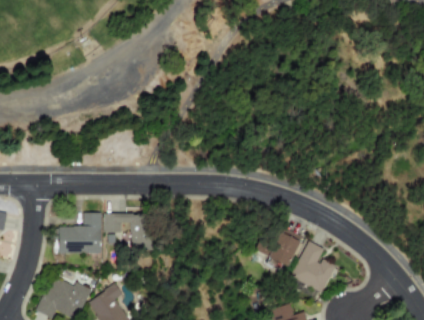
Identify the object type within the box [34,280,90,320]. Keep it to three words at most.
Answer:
house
